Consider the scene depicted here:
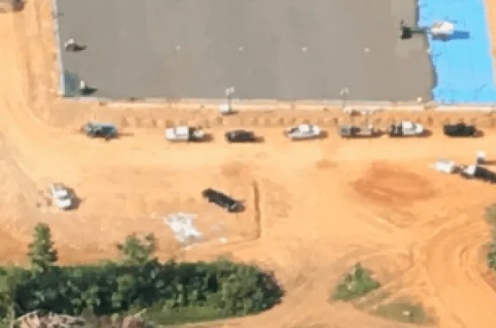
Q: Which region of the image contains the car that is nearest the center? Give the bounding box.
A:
[226,129,257,144]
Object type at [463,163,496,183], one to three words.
vehicle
